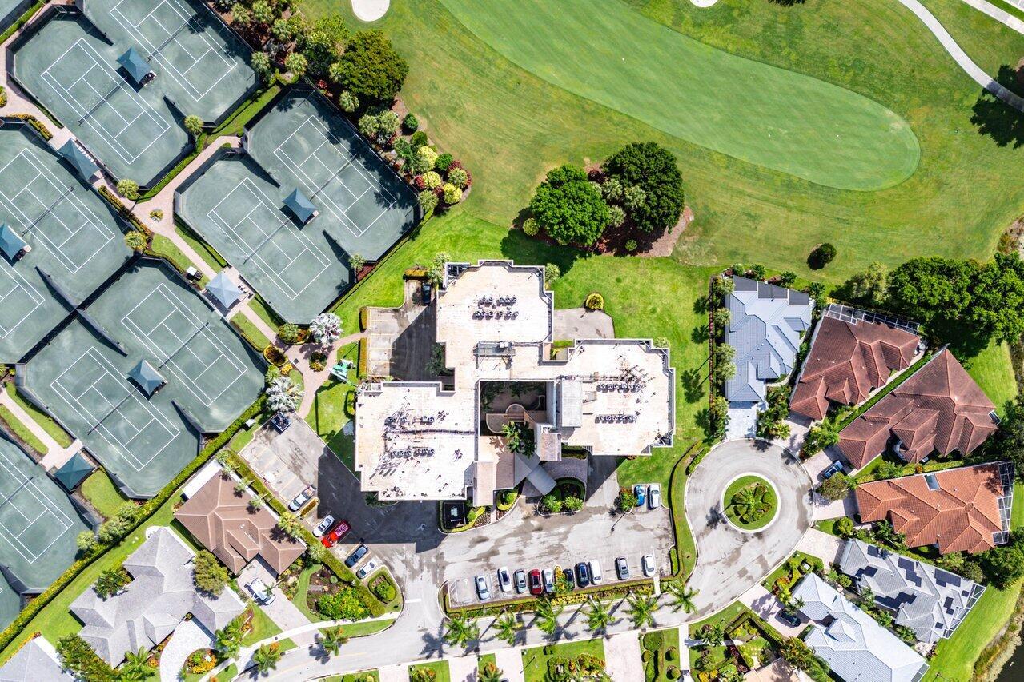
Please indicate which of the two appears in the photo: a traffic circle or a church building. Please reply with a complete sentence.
I can see a traffic circle in this picture.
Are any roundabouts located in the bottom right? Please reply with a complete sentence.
Yes, you'll find a roundabout in the bottom right.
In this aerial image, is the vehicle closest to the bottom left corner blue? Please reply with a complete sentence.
No, the vehicle closest to the bottom left corner is white.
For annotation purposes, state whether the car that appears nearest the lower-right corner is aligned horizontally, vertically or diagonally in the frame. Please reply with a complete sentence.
From this overhead view, the car that appears nearest the lower-right corner appears to run diagonally.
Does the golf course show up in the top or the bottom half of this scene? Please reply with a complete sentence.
Seen from above, the golf course lies in the top half of the view.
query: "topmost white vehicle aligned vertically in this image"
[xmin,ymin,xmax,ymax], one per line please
[648,483,660,508]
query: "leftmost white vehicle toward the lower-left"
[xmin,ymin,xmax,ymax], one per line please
[243,576,273,603]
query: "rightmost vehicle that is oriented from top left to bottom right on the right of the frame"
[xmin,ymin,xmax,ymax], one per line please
[776,607,802,628]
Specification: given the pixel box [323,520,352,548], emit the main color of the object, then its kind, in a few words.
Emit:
red truck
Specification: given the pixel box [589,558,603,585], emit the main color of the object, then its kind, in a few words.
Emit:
white vehicle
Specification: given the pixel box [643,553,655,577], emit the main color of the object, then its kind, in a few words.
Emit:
white vehicle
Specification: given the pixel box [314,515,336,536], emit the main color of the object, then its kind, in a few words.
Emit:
white car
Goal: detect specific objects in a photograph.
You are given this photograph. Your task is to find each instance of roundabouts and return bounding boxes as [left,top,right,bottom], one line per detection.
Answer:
[721,473,781,533]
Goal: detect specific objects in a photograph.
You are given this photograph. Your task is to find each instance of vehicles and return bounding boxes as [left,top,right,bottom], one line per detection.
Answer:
[243,576,273,603]
[497,566,513,593]
[562,563,575,590]
[530,569,542,595]
[421,281,432,306]
[821,458,846,479]
[634,484,645,508]
[643,553,655,577]
[323,520,352,548]
[289,487,316,511]
[185,267,201,279]
[314,515,336,536]
[514,569,526,593]
[476,574,491,600]
[648,483,660,508]
[616,556,628,580]
[543,568,555,593]
[575,561,589,588]
[776,607,802,628]
[589,558,603,585]
[346,544,369,567]
[357,558,379,577]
